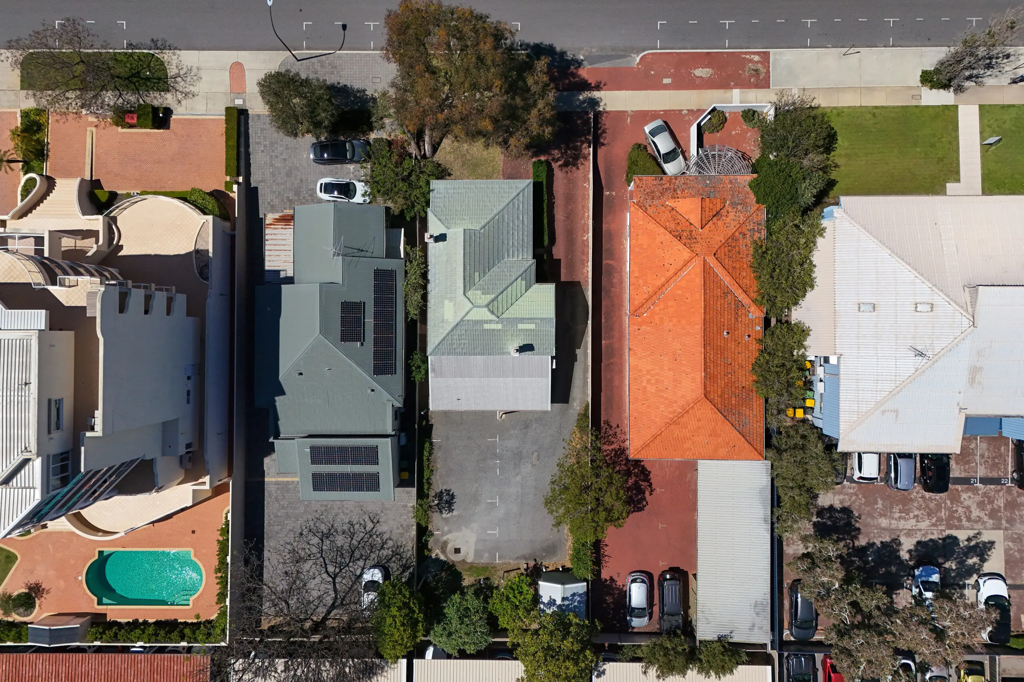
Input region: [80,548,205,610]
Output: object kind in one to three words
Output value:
swimming pool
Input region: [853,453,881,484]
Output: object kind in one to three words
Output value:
car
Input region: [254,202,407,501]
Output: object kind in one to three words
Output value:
house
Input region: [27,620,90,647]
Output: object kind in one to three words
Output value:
shed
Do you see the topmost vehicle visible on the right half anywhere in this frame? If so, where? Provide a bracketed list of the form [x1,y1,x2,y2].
[644,119,683,174]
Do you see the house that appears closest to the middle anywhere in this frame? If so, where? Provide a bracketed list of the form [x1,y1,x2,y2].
[425,179,556,411]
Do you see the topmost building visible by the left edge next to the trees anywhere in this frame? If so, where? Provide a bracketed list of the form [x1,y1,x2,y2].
[0,172,230,541]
